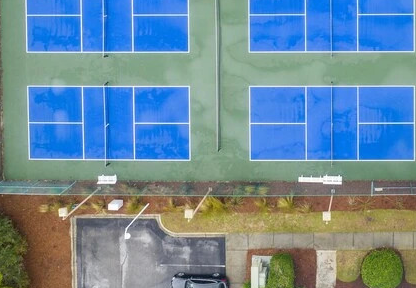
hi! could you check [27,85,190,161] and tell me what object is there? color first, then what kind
blue sports court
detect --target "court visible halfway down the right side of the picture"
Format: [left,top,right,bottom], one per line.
[249,85,416,162]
